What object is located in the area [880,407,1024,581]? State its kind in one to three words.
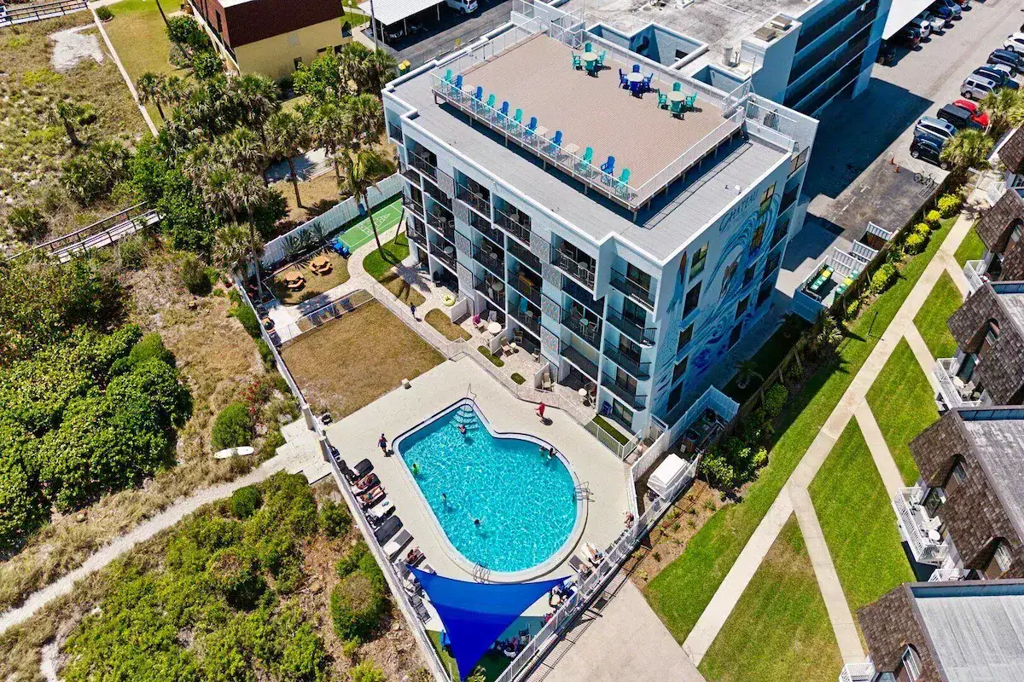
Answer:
house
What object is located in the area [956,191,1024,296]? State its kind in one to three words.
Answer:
house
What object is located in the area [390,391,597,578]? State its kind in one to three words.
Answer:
swimming pool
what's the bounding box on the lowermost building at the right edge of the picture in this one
[831,580,1024,682]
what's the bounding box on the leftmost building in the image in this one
[192,0,348,77]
